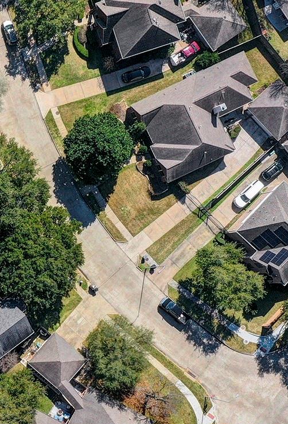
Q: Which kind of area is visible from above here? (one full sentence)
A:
This image shows a residential area.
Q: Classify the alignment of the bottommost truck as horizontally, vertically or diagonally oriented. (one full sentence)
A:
The bottommost truck has been laid out diagonally relative to the frame.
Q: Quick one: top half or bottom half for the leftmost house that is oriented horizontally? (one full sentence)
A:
It is in the top half that the leftmost house that is oriented horizontally appears.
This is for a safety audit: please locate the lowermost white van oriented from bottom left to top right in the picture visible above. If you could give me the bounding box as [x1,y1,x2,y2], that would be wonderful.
[229,178,264,209]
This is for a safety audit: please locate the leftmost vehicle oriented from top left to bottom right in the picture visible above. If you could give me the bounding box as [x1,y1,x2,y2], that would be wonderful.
[156,295,194,327]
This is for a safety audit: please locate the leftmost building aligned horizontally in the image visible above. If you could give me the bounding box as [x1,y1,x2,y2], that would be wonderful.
[86,0,247,71]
